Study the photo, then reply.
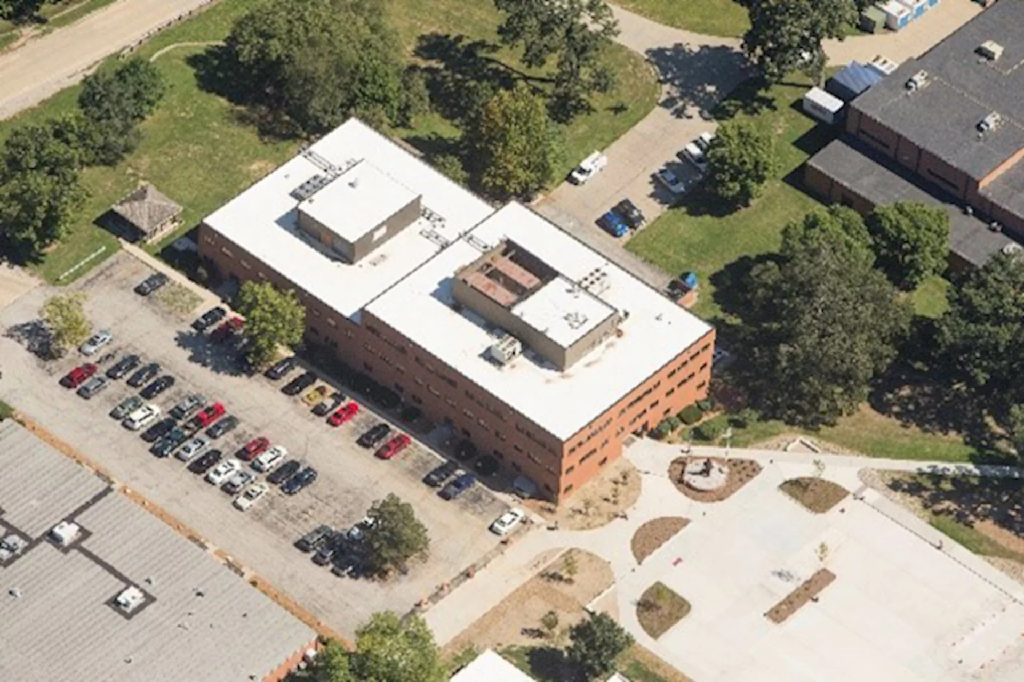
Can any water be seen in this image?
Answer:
No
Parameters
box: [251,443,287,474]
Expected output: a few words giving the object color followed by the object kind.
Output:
white car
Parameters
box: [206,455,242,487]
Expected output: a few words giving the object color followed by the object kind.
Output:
white car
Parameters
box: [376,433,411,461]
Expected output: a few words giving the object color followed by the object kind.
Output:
red car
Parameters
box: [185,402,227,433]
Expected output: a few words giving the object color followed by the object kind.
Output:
red truck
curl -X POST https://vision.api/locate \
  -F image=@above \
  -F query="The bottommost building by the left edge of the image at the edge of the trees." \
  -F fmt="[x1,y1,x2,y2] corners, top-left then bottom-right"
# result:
[0,409,319,682]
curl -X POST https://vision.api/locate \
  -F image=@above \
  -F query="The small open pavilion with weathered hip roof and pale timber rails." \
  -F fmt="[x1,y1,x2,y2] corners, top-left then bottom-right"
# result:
[110,184,183,245]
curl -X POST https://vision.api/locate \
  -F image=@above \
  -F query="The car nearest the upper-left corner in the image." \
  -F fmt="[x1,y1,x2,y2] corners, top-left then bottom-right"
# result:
[133,272,168,298]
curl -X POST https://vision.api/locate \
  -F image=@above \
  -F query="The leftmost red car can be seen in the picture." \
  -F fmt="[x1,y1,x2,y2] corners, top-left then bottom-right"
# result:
[61,363,97,390]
